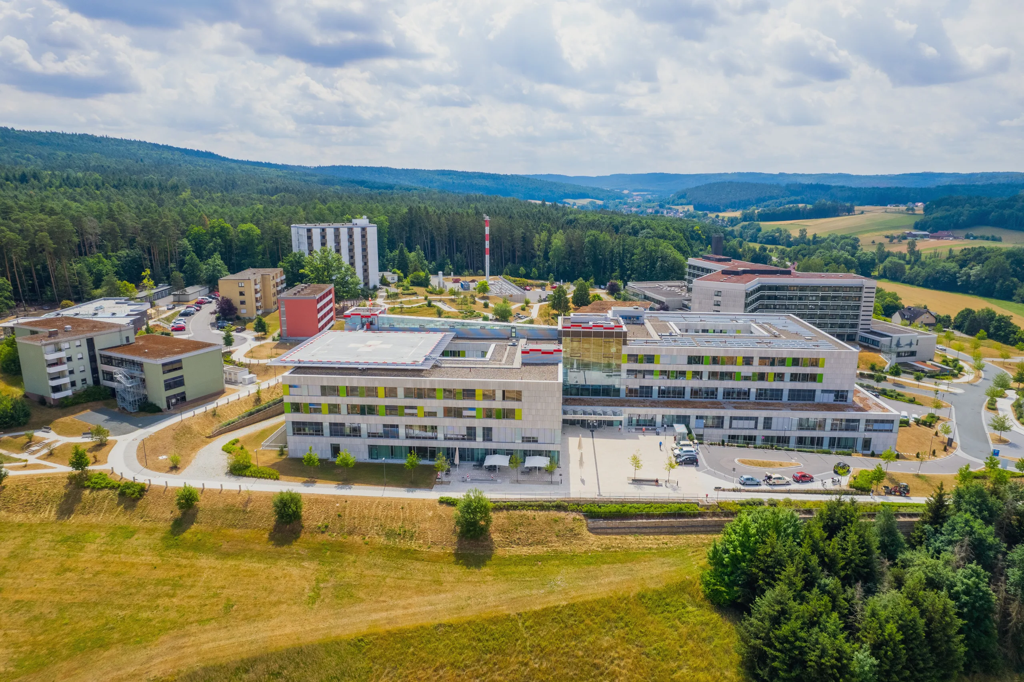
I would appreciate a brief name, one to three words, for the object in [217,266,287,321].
house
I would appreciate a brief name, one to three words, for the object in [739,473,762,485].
vehicle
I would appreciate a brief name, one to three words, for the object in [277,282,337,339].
house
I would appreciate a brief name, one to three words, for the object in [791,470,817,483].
vehicle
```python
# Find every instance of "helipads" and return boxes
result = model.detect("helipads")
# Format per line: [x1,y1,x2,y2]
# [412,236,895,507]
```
[266,330,456,374]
